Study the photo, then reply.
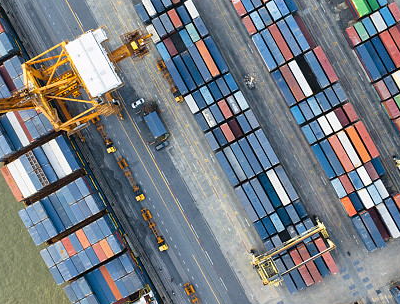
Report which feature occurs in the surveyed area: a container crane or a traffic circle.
container crane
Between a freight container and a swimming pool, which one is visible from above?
freight container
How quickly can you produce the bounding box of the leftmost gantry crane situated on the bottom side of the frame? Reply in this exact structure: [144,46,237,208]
[250,212,338,284]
